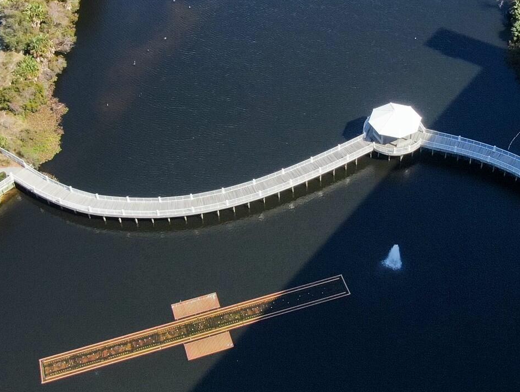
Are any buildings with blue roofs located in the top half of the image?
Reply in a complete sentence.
No, no building with a blue roof appears in the top half of the image.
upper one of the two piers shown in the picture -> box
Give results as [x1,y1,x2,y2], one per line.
[171,291,221,320]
